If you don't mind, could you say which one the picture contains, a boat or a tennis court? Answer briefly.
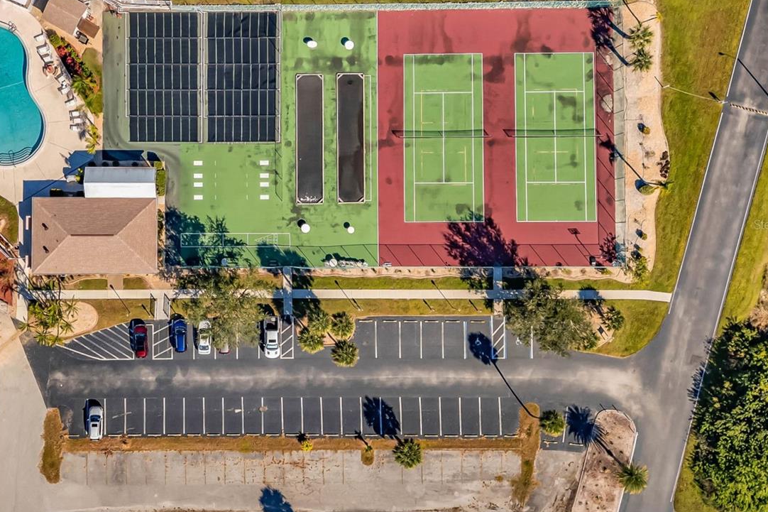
tennis court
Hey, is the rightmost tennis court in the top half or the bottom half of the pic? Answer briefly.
top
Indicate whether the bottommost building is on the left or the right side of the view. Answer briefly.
left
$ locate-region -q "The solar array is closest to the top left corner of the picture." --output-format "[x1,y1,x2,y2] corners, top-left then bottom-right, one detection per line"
[128,11,200,142]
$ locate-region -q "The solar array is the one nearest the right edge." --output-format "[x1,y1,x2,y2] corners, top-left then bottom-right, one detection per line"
[206,11,277,142]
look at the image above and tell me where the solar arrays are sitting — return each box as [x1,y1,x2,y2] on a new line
[128,11,200,142]
[206,11,277,142]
